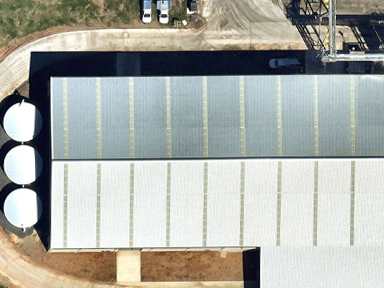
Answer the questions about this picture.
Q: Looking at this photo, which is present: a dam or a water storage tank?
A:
water storage tank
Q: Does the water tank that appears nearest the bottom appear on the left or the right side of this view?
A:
left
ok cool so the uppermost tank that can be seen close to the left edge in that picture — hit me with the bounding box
[2,91,43,144]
